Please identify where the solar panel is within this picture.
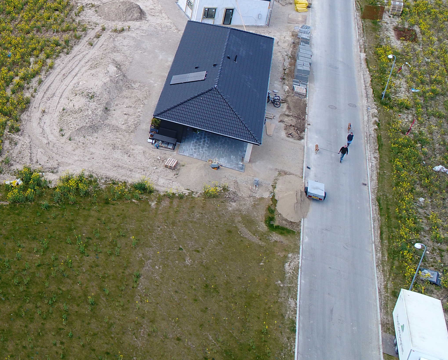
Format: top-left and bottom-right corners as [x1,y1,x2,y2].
[185,68,204,86]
